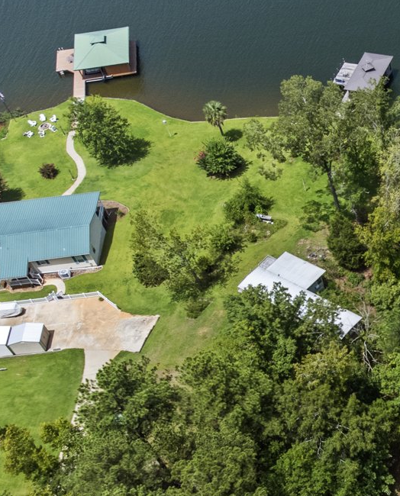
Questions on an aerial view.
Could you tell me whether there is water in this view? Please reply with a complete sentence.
Yes, the picture does contain water.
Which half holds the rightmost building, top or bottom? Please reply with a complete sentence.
The rightmost building is in the top half of the image.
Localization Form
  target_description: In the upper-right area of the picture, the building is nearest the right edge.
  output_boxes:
[339,51,393,113]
